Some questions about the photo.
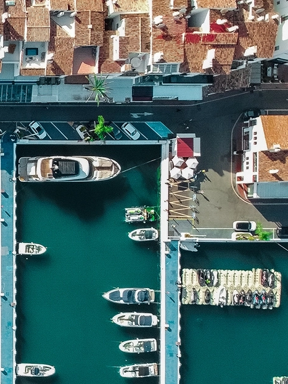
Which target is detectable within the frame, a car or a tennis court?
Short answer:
car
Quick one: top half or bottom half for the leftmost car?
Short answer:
top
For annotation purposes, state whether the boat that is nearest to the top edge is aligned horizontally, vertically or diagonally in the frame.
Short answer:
horizontally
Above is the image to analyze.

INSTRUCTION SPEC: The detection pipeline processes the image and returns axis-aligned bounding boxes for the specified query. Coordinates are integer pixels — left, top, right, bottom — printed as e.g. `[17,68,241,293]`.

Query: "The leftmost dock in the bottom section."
[0,130,27,384]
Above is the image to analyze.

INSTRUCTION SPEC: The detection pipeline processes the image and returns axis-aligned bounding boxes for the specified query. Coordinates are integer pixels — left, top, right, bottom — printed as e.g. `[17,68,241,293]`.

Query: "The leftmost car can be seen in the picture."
[25,118,49,142]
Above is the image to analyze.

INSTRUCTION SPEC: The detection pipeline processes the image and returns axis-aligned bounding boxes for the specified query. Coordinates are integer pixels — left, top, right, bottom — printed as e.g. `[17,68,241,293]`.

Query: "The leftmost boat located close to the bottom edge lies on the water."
[16,362,60,377]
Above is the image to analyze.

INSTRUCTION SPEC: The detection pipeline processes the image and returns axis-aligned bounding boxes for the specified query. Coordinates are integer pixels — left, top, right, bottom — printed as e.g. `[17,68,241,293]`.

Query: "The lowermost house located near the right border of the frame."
[235,114,288,195]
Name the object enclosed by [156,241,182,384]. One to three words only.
pier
